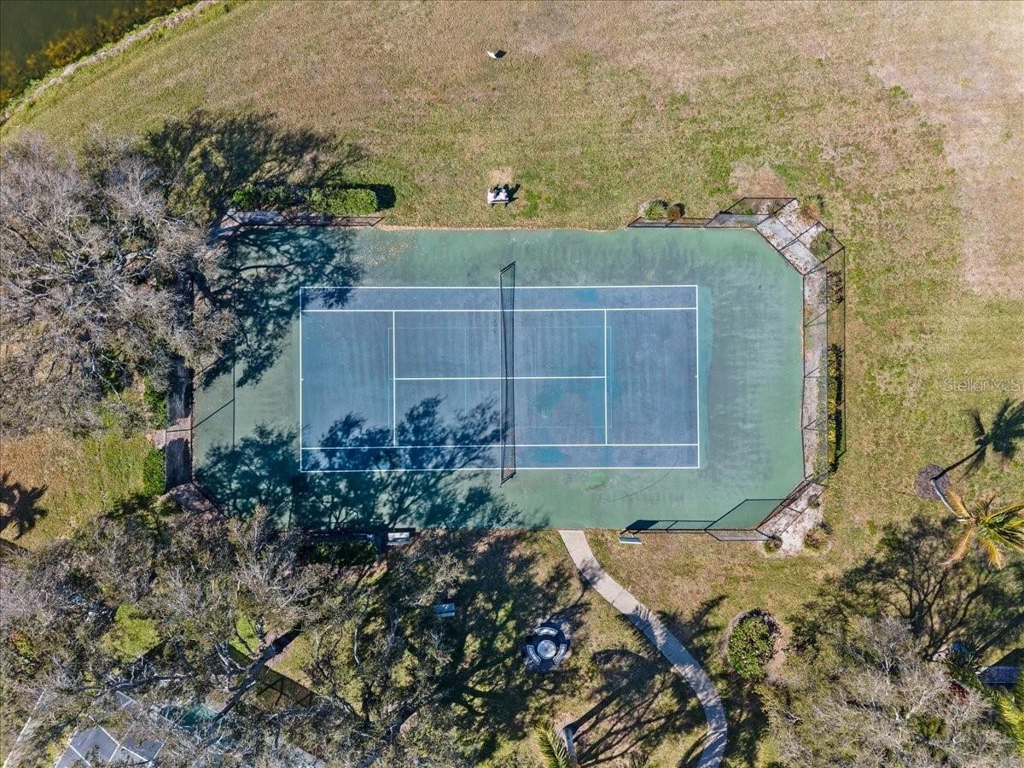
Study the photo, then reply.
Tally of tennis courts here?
one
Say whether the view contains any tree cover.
Yes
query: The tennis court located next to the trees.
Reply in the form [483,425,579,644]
[193,228,805,531]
